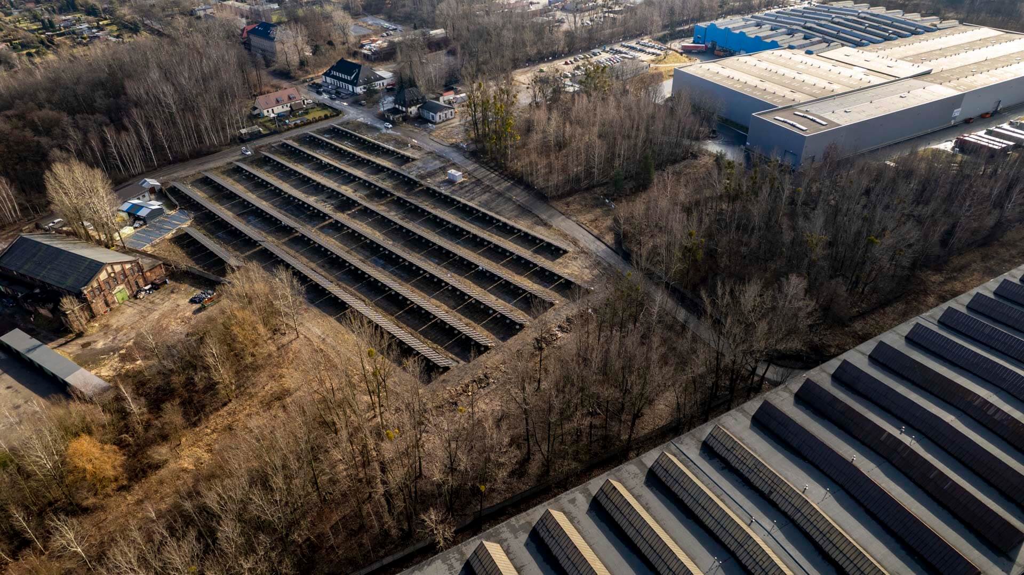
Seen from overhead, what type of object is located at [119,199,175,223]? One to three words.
hangar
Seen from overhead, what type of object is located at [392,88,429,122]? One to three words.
house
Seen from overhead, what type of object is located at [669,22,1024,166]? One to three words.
warehouse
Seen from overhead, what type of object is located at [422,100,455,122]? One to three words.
building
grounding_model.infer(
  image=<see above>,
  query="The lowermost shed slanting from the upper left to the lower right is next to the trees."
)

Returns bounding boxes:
[0,328,114,405]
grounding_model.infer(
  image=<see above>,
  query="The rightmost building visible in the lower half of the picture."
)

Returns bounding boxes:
[397,267,1024,575]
